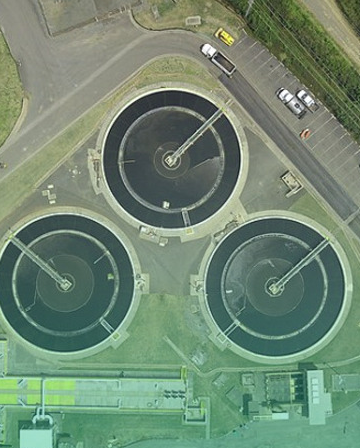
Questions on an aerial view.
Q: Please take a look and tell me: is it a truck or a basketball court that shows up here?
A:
truck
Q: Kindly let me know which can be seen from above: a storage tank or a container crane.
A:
storage tank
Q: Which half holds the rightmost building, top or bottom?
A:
bottom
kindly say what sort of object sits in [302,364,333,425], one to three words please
building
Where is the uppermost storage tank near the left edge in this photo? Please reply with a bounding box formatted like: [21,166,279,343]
[0,206,144,362]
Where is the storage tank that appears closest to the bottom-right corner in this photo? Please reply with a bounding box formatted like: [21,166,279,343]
[198,210,352,365]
